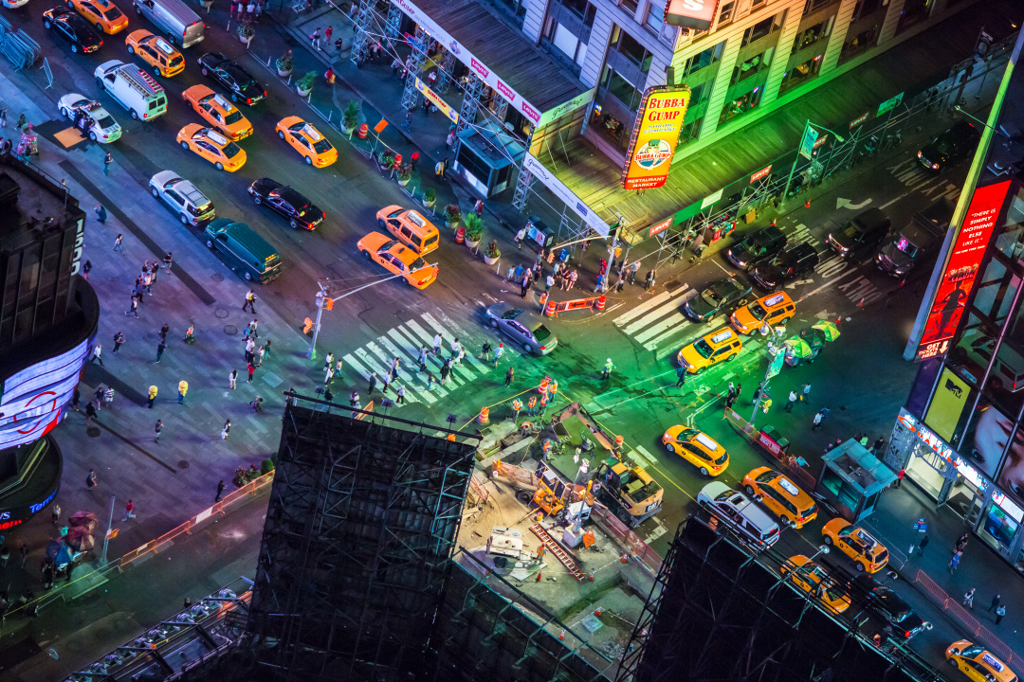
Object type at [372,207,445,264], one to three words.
vehicle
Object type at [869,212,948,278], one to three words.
truck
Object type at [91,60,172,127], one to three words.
van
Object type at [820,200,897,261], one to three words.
car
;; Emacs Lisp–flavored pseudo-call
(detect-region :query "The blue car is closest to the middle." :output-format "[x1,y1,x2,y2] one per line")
[477,309,564,360]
